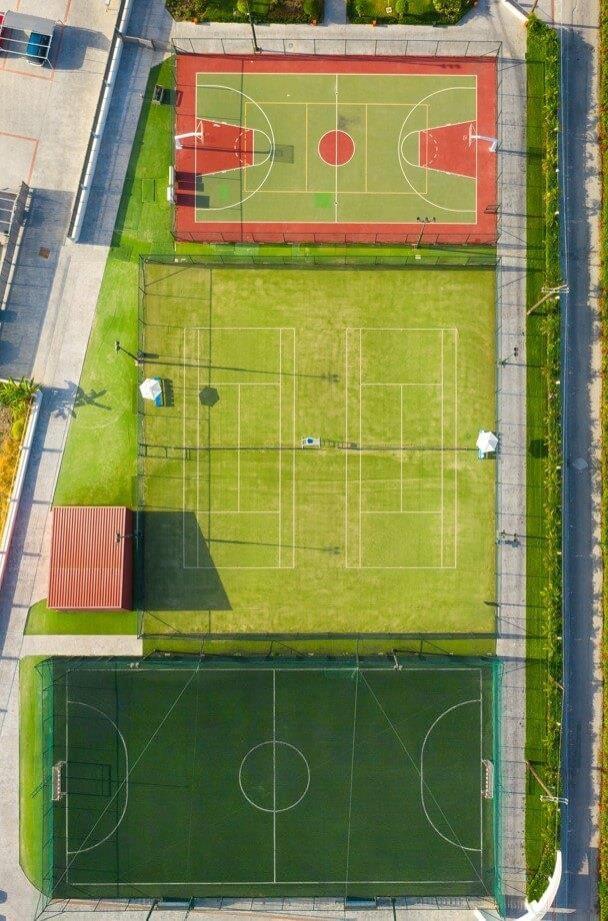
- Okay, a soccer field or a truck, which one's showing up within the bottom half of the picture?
soccer field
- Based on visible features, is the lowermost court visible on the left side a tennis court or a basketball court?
tennis court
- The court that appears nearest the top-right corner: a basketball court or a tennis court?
basketball court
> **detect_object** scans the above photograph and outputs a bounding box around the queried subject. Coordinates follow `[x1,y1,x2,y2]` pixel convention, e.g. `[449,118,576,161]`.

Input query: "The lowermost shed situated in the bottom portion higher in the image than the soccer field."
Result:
[47,506,132,609]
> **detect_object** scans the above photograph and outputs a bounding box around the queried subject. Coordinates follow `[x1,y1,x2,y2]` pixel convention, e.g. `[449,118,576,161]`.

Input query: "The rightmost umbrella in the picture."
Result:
[476,430,496,452]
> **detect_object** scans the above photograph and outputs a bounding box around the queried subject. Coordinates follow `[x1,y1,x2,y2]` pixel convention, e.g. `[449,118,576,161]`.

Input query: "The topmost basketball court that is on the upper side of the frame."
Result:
[176,54,497,243]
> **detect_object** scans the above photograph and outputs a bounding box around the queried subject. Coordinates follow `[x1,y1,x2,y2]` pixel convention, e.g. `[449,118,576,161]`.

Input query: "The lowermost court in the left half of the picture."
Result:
[183,328,295,568]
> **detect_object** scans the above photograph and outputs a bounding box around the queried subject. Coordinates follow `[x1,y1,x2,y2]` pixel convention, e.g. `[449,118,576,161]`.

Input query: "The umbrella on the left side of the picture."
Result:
[141,377,162,399]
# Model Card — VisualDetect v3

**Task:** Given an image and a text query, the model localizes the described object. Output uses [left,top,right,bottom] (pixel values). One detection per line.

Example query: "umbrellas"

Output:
[476,430,496,452]
[141,377,162,399]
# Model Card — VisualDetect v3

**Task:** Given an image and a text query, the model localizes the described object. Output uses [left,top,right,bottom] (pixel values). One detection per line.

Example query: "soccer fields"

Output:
[53,657,497,899]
